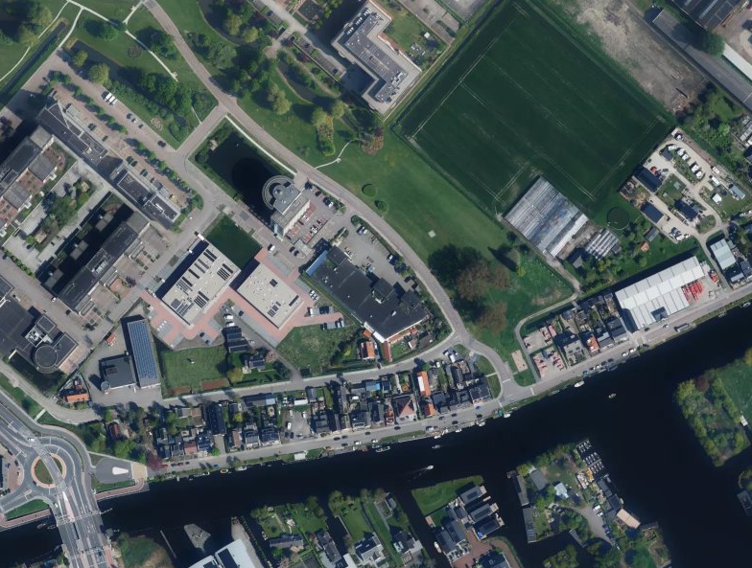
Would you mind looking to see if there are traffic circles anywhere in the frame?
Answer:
Yes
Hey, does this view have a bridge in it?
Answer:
Yes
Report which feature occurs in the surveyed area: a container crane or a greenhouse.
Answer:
greenhouse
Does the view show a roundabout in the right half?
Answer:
No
